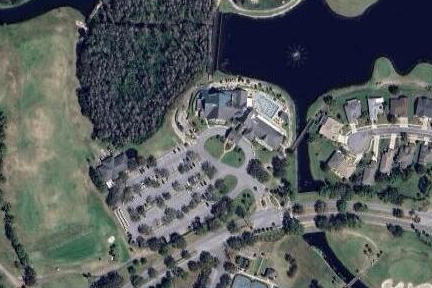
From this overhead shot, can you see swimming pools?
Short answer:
Yes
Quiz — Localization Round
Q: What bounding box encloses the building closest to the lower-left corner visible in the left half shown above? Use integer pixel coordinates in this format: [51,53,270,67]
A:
[100,157,132,186]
